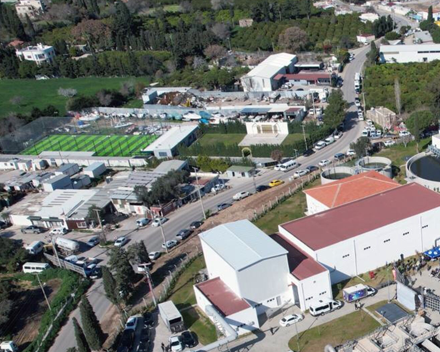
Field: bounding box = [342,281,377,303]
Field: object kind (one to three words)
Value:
truck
